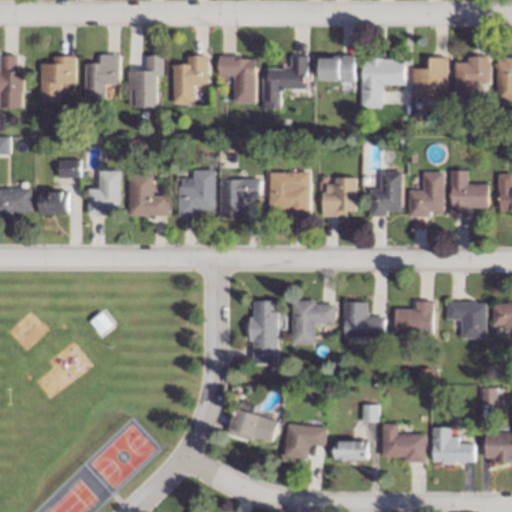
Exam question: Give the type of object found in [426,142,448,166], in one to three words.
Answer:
swimming pool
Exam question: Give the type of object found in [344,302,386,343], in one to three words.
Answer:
house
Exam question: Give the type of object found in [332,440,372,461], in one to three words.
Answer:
house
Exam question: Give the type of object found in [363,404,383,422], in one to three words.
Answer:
building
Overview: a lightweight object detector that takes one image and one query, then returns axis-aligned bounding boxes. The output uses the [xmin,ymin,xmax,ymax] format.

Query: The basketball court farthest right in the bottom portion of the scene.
[85,418,161,497]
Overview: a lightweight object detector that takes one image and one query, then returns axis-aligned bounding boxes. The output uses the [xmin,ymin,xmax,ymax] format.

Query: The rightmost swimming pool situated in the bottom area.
[316,344,330,358]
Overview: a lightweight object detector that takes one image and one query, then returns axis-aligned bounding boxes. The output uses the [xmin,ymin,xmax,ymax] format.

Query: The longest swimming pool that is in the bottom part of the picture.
[262,390,281,411]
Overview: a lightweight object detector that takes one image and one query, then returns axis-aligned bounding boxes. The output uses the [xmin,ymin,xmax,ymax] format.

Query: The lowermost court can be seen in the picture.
[36,465,112,512]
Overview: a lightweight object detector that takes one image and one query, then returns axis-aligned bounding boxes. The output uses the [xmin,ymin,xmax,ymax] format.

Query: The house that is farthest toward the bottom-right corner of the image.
[483,435,512,465]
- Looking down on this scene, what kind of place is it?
residential area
